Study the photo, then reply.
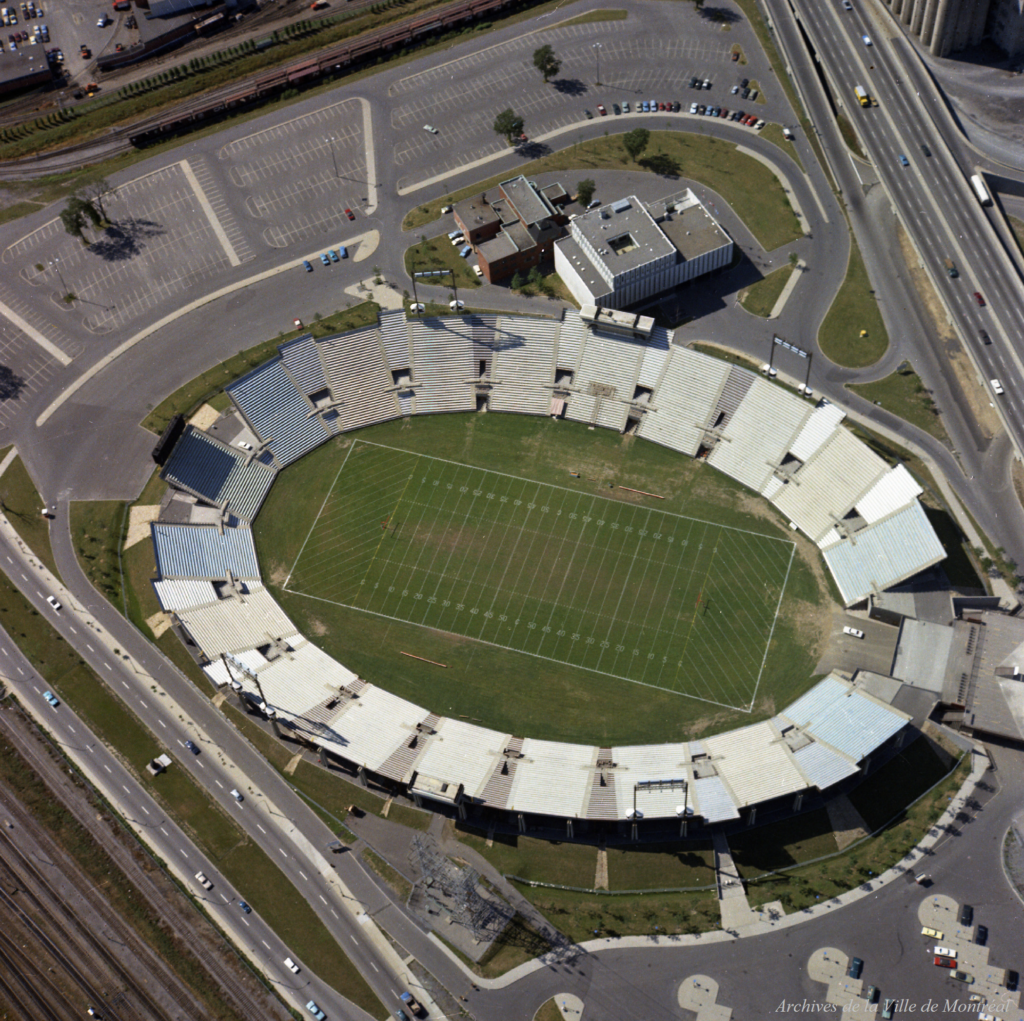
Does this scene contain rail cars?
Yes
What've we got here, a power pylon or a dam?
power pylon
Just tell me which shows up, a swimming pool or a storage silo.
storage silo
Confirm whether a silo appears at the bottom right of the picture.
No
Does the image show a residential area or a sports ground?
sports ground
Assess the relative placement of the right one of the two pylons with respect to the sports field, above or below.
below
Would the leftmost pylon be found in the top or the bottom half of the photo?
bottom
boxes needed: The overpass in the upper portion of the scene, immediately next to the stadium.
[786,0,1024,466]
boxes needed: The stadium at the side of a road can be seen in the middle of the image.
[123,310,944,841]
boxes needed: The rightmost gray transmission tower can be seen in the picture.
[457,880,508,944]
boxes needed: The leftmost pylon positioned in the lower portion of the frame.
[401,849,460,905]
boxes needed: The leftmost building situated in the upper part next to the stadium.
[453,175,566,284]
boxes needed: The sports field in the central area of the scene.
[252,411,845,747]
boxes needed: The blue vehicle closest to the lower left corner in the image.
[238,900,253,914]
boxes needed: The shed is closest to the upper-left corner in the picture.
[0,43,60,103]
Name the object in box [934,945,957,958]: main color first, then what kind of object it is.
white vehicle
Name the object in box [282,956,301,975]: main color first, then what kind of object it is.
white car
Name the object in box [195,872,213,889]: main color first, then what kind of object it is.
white car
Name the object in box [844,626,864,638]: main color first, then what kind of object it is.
white vehicle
